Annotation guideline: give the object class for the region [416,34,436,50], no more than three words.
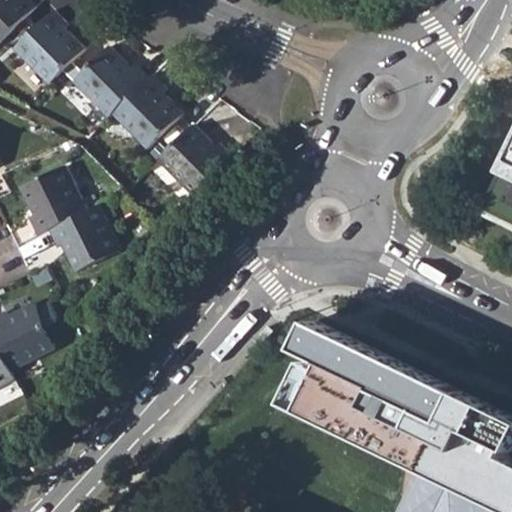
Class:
car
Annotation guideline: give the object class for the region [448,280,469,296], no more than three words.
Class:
car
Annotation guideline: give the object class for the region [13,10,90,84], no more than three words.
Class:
house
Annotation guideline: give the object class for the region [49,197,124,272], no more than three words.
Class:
house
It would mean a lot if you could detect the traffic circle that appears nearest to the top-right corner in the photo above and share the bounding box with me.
[338,48,431,146]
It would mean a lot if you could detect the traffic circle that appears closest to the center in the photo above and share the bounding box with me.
[284,173,373,265]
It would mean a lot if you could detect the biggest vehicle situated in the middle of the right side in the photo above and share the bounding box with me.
[415,258,450,285]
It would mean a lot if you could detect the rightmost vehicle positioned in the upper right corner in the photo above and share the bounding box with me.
[451,6,472,26]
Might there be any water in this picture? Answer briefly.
No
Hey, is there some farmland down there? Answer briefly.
No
